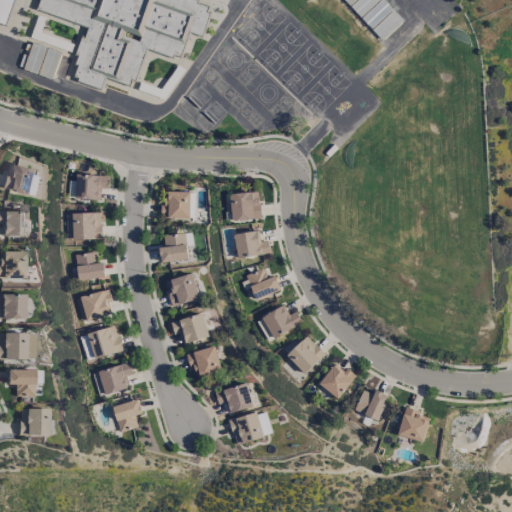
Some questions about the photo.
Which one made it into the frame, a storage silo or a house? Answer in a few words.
house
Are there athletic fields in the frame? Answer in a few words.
Yes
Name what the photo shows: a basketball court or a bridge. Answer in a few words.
basketball court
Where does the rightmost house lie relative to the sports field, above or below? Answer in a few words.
below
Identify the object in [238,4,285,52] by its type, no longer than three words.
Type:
basketball court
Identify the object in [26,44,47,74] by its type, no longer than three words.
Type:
building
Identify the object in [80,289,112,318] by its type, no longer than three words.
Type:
house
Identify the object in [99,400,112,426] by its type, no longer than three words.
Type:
swimming pool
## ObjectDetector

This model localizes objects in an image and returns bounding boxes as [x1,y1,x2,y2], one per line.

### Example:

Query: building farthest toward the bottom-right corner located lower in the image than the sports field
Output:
[399,403,430,440]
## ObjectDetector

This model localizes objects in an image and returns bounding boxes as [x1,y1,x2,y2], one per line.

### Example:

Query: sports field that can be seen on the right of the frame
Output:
[316,15,500,363]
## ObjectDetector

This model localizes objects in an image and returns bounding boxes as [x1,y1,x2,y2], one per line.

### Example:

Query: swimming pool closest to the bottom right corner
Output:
[396,449,418,462]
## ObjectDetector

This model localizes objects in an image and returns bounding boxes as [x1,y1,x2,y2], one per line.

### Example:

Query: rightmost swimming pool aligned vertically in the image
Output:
[224,228,237,258]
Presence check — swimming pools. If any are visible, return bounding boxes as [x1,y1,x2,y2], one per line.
[99,400,112,426]
[224,228,237,258]
[198,191,206,208]
[396,449,418,462]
